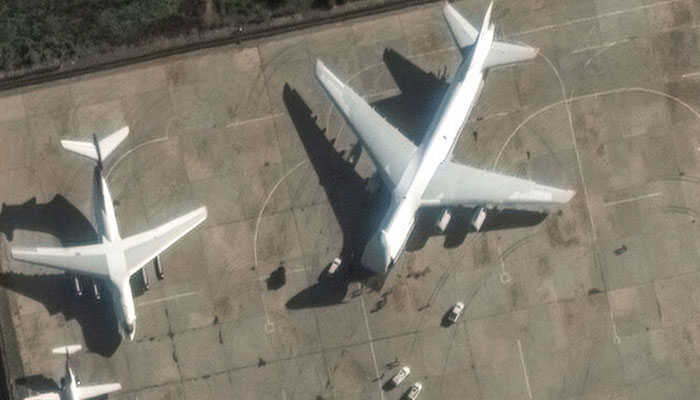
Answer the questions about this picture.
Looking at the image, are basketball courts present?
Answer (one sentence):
No, no basketball court is visible in the scene.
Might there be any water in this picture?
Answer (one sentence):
No, the picture contains no water.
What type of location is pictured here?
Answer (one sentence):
What you see here is an airport.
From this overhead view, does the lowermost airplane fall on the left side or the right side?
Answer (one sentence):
You can find the lowermost airplane on the left side of the picture.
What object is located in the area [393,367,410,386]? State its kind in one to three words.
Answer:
car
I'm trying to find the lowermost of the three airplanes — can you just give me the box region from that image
[22,347,120,400]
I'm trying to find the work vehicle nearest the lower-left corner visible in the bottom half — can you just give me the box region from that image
[275,269,288,287]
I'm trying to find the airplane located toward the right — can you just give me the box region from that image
[312,0,574,295]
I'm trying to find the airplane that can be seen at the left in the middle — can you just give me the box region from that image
[11,126,206,338]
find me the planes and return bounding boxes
[312,0,574,295]
[11,126,206,338]
[22,347,120,400]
